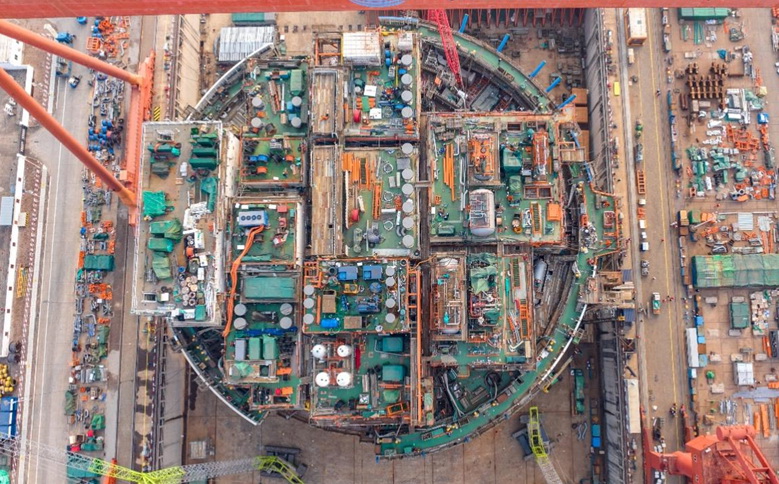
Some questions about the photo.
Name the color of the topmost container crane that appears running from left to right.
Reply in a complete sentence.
From above, the topmost container crane that appears running from left to right appears red.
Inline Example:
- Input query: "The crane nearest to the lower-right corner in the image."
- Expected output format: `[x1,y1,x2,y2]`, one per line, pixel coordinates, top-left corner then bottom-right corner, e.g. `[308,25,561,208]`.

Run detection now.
[641,397,770,484]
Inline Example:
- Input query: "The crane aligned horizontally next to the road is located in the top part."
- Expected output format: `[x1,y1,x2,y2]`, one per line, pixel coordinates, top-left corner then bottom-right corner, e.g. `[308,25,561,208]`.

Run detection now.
[0,0,779,221]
